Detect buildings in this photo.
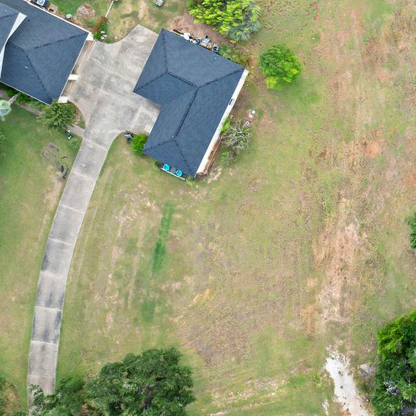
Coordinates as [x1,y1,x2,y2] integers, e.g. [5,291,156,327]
[0,0,99,105]
[132,29,253,178]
